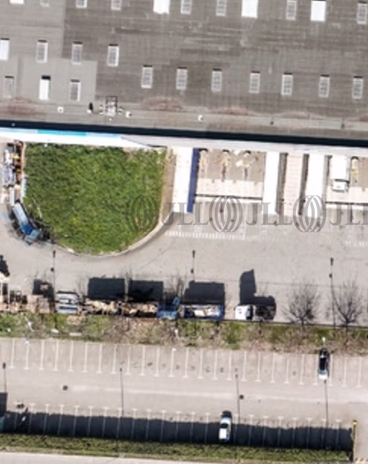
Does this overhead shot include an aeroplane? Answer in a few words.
No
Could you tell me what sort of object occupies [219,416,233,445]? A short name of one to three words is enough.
car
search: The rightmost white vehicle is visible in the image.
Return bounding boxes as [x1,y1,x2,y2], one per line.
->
[331,158,351,195]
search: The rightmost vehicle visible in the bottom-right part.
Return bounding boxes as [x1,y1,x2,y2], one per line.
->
[316,351,330,379]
